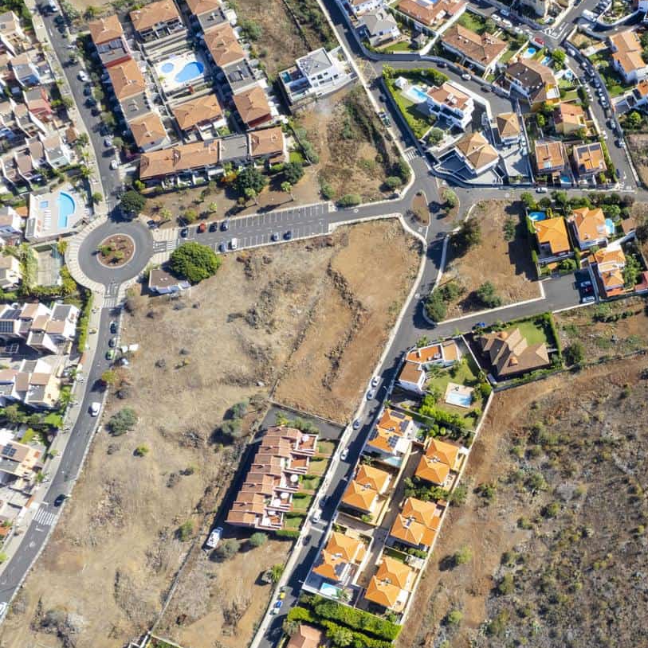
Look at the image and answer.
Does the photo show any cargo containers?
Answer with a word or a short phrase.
No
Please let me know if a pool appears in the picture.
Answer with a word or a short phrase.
Yes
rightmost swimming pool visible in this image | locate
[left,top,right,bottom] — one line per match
[605,216,619,237]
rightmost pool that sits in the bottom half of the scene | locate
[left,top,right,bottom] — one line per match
[444,383,476,408]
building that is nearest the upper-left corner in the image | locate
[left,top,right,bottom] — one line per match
[0,10,37,50]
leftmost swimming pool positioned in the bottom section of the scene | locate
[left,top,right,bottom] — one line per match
[317,580,348,607]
